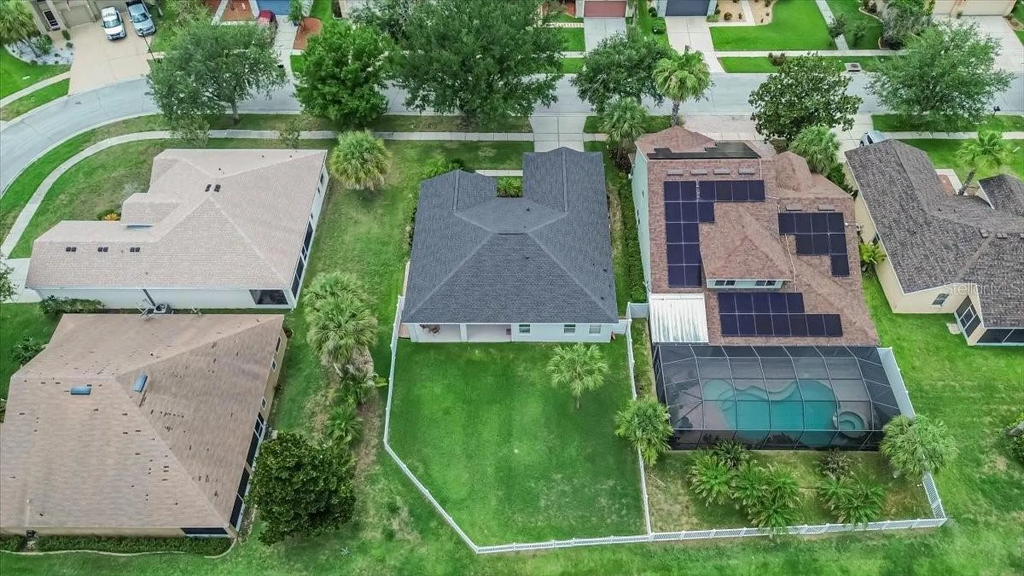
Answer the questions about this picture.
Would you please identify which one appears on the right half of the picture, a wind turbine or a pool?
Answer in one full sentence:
What appears on the right half of the picture is a pool.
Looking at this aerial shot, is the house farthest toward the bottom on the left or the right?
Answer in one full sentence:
You can find the house farthest toward the bottom on the left side of the picture.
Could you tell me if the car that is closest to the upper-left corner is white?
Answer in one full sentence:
Yes, the car that is closest to the upper-left corner is white.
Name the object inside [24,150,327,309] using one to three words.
house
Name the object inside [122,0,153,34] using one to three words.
truck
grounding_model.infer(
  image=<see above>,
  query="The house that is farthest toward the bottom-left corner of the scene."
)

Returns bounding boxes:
[0,314,283,536]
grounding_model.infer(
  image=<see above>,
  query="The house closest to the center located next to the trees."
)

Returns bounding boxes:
[396,144,619,343]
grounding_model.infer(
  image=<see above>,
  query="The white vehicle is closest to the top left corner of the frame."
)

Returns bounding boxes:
[95,1,125,39]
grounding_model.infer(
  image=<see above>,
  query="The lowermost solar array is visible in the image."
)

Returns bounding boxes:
[719,292,845,336]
